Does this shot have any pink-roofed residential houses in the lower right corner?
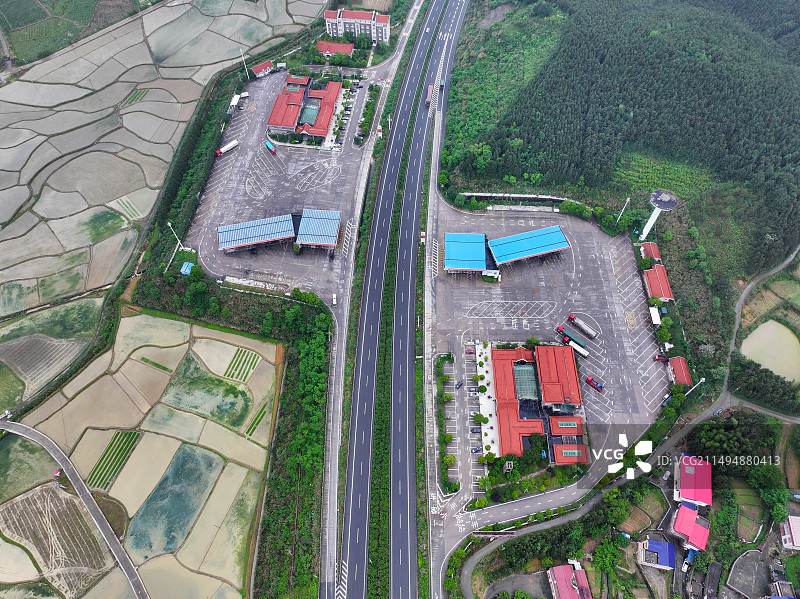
Yes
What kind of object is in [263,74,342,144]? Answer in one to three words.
building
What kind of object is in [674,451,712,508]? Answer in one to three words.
house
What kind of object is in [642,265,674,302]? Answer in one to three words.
house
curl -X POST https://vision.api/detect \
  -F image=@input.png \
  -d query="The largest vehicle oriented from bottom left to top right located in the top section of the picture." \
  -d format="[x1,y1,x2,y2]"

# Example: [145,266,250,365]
[216,139,238,156]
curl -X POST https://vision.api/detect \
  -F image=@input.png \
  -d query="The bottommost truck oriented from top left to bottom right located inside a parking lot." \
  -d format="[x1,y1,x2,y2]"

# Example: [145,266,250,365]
[584,373,607,394]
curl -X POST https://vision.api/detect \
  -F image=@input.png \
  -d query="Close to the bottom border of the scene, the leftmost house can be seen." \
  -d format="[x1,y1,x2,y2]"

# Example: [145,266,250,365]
[543,565,592,599]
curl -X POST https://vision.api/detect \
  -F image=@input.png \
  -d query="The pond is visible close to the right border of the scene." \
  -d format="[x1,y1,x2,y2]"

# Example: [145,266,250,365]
[741,321,800,383]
